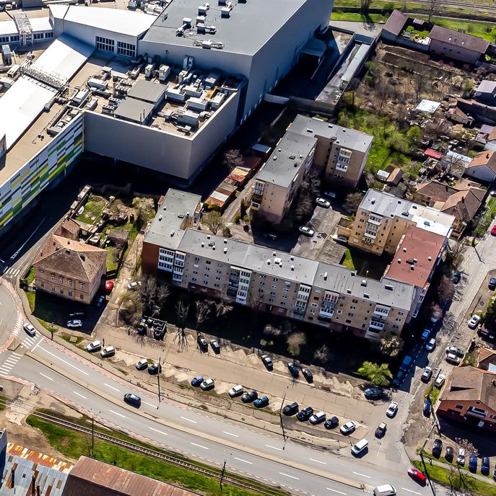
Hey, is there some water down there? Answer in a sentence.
No, water can't be seen anywhere here.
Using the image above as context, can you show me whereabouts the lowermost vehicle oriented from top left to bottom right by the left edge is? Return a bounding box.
[22,322,38,337]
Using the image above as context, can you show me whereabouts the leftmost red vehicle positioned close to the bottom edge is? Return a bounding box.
[407,470,429,485]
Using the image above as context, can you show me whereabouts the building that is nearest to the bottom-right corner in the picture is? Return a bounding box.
[433,371,496,435]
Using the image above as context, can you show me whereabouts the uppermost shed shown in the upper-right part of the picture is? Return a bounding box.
[382,9,409,46]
